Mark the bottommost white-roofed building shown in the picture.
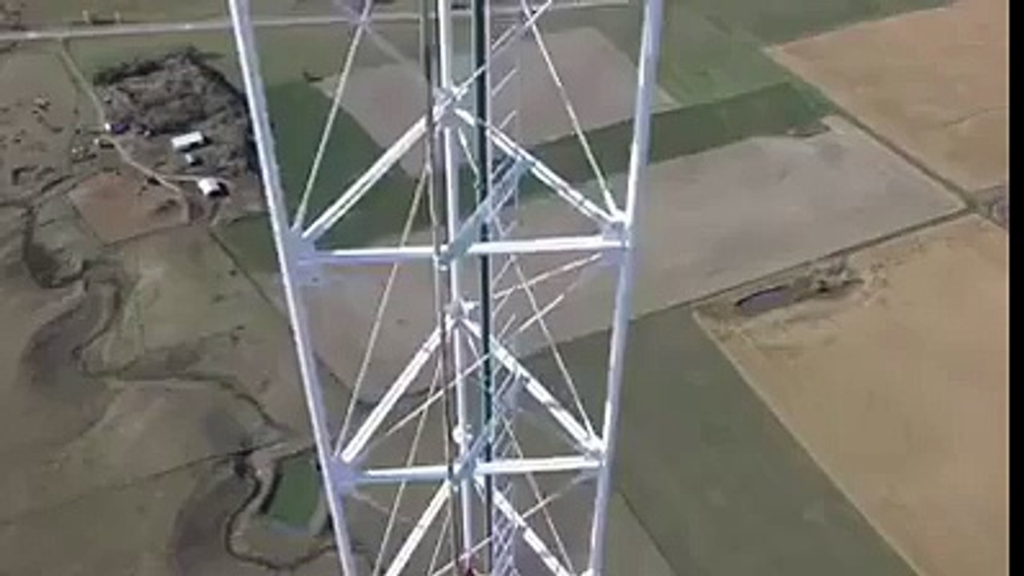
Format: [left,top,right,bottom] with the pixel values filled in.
[198,178,222,199]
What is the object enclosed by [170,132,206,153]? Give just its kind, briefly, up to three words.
barn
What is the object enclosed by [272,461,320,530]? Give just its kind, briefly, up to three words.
pond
